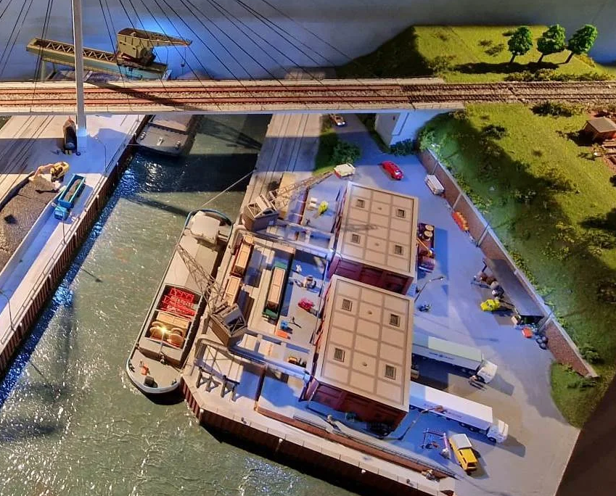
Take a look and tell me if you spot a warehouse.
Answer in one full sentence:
Yes, the picture does show a warehouse.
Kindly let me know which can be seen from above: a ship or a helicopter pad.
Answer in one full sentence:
It is a ship that can be seen here.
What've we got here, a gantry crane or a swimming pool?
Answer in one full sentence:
Visible in the photo is a gantry crane.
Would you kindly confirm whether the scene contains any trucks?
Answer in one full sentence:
Yes, the picture does show a truck.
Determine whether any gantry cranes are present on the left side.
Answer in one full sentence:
Yes, a gantry crane can be seen on the left side.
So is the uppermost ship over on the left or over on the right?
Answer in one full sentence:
It is on the left.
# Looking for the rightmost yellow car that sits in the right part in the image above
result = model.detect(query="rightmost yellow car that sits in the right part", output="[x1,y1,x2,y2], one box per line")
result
[478,299,504,311]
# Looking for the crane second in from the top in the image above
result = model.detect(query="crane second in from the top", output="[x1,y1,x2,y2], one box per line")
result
[232,167,337,259]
